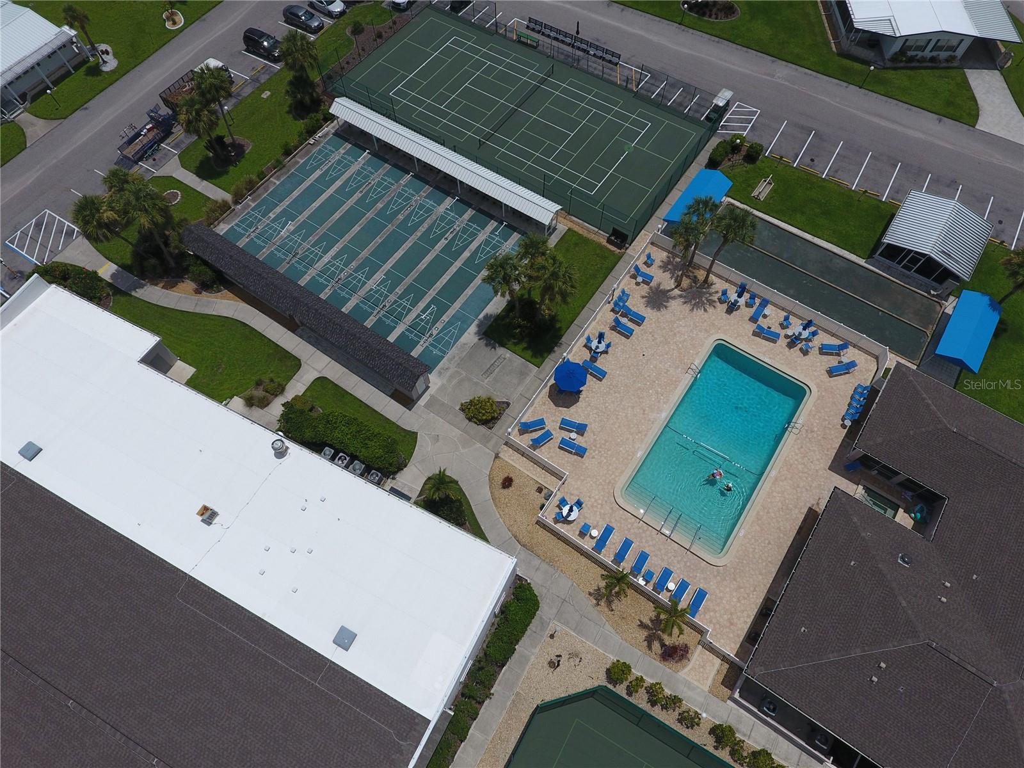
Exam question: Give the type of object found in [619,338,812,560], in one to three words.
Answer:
swimming pool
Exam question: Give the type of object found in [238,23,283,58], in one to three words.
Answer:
car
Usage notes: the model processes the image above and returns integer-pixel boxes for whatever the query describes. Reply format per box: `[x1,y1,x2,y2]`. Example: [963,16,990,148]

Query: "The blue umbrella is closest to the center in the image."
[552,360,588,394]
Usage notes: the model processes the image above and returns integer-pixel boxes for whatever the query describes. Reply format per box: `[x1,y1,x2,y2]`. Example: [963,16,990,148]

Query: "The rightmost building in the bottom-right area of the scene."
[727,360,1024,768]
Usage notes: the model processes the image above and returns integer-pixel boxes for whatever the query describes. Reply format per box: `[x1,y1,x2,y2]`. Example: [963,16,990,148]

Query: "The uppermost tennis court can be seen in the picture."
[340,7,708,227]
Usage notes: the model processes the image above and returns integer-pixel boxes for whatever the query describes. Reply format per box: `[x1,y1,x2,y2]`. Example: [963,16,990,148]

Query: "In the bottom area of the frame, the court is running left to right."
[496,688,735,768]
